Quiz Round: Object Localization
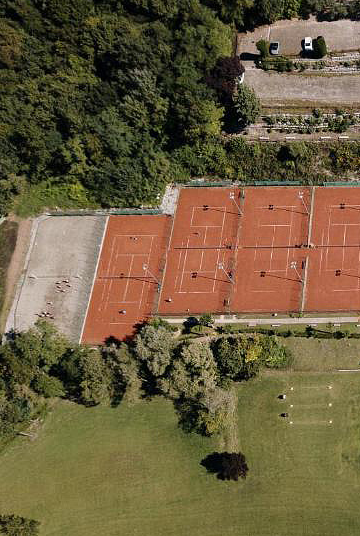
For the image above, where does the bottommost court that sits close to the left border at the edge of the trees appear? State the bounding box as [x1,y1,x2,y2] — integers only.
[9,216,105,344]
